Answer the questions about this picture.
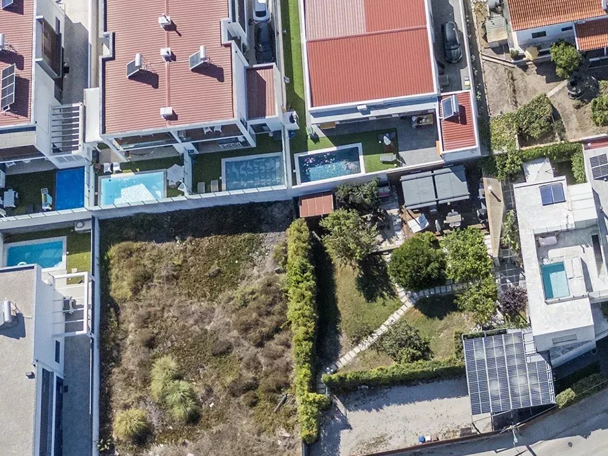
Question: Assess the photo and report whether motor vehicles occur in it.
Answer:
Yes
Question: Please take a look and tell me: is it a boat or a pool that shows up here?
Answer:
pool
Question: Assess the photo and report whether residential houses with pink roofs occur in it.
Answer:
Yes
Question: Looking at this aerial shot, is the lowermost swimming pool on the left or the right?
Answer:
right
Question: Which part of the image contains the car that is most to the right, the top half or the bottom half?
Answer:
top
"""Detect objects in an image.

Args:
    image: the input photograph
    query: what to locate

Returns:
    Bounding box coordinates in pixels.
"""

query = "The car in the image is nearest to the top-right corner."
[442,24,462,64]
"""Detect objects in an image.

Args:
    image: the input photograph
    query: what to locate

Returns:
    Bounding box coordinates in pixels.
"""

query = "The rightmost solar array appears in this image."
[590,154,608,180]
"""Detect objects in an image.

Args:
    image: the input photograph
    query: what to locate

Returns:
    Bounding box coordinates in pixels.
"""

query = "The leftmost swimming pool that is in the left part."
[6,238,67,271]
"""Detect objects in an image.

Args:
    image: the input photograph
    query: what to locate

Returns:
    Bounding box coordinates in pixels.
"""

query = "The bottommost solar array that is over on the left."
[0,64,25,113]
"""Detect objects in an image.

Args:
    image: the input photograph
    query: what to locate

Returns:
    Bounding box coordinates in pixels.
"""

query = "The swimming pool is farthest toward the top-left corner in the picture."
[54,169,86,211]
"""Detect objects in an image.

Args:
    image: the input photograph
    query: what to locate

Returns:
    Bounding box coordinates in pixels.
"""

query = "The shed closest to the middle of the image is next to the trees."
[301,192,337,223]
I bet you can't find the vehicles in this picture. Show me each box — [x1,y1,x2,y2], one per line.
[442,24,462,64]
[254,0,271,24]
[255,24,276,62]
